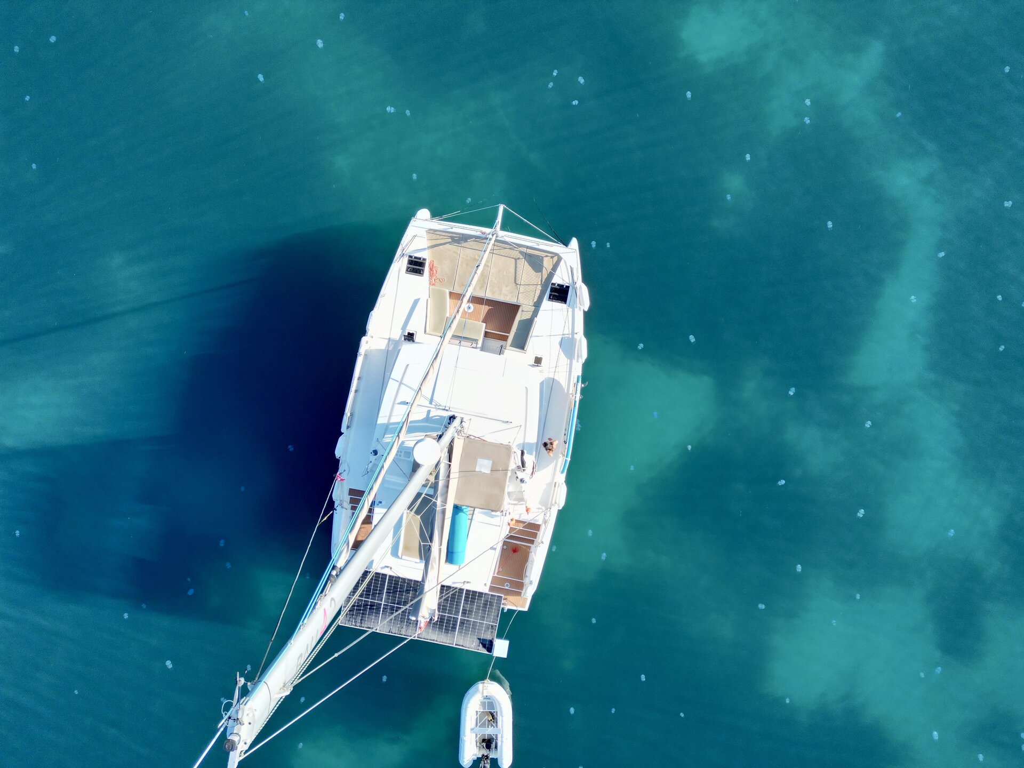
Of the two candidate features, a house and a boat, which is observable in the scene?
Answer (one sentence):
It is a boat that can be seen here.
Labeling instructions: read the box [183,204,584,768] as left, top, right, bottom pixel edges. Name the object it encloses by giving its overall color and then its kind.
white boat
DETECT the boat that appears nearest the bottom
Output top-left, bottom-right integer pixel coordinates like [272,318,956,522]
[459,682,513,768]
